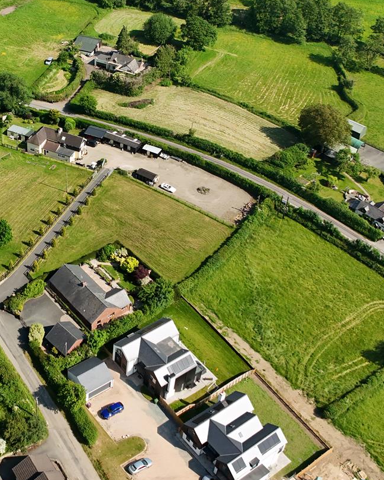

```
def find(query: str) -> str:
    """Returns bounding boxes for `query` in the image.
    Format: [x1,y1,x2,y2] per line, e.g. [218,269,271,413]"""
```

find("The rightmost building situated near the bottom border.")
[183,384,288,480]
